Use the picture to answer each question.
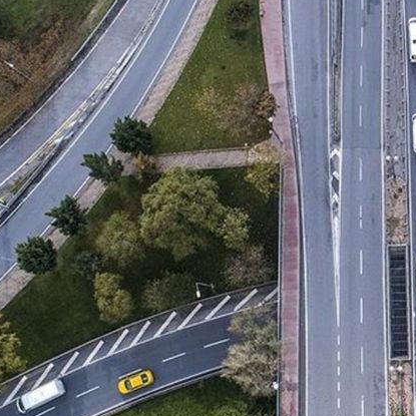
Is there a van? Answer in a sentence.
Yes, there's a van down there.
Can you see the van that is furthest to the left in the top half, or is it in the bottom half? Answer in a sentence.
The van that is furthest to the left is in the bottom half of the image.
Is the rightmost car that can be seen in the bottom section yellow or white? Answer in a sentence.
The rightmost car that can be seen in the bottom section looks yellow in the image.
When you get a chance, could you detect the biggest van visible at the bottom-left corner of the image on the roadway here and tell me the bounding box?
[21,377,71,410]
